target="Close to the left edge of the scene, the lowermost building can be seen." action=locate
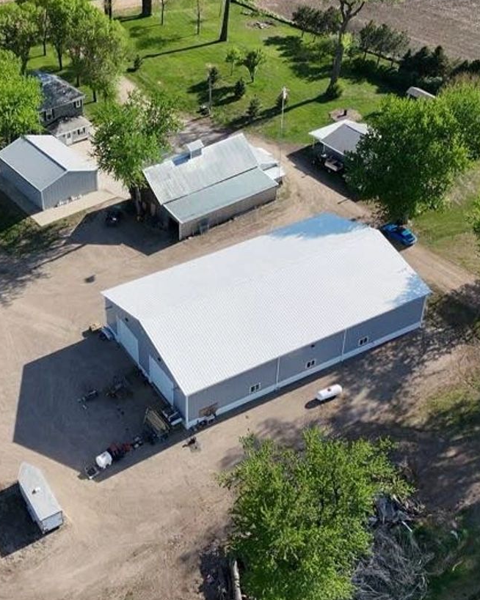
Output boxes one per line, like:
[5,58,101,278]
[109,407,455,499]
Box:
[0,135,100,211]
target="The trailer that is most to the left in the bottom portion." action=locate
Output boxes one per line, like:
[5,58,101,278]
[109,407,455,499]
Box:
[17,463,65,539]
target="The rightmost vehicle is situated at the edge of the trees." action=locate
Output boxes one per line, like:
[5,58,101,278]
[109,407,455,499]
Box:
[380,222,418,243]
